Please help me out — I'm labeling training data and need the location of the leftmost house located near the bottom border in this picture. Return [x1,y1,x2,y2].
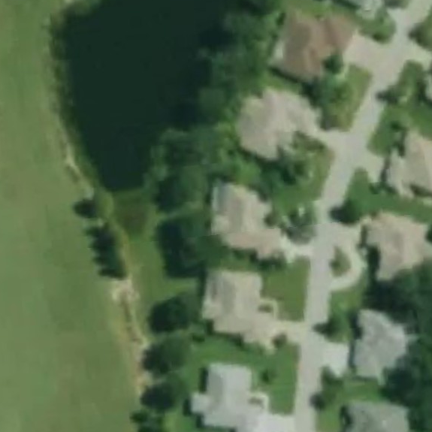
[191,363,263,432]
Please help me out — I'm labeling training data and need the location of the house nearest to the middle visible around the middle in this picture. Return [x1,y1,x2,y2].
[211,182,285,256]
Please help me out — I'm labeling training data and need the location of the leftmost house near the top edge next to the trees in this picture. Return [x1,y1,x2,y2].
[271,13,356,77]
